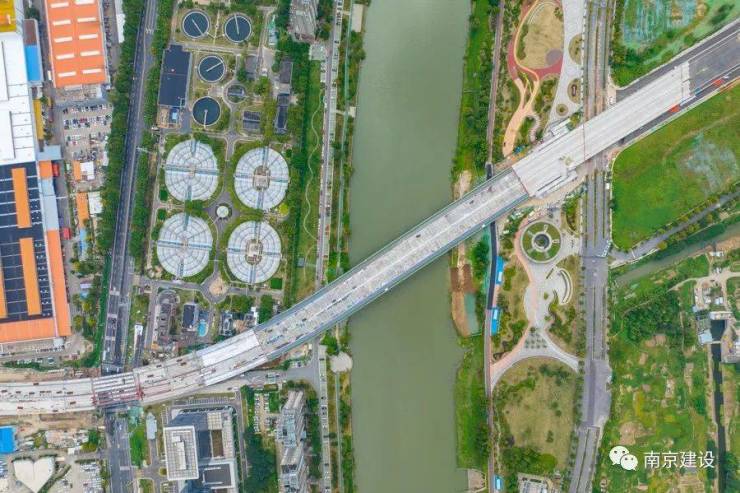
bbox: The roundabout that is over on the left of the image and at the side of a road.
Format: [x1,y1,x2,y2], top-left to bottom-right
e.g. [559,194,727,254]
[200,274,231,303]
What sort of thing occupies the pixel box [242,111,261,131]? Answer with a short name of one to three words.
building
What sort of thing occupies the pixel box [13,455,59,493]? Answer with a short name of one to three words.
building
